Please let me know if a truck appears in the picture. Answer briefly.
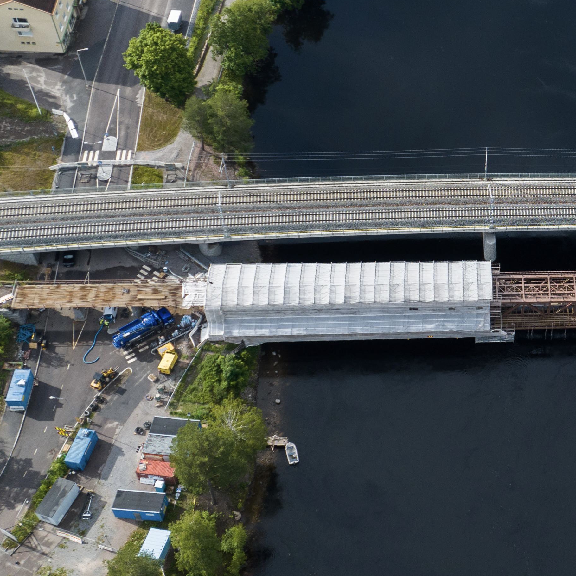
Yes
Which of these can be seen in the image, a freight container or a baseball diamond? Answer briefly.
freight container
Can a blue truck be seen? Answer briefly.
Yes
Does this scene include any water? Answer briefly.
Yes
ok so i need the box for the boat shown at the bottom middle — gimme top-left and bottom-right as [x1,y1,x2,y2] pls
[286,441,299,466]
